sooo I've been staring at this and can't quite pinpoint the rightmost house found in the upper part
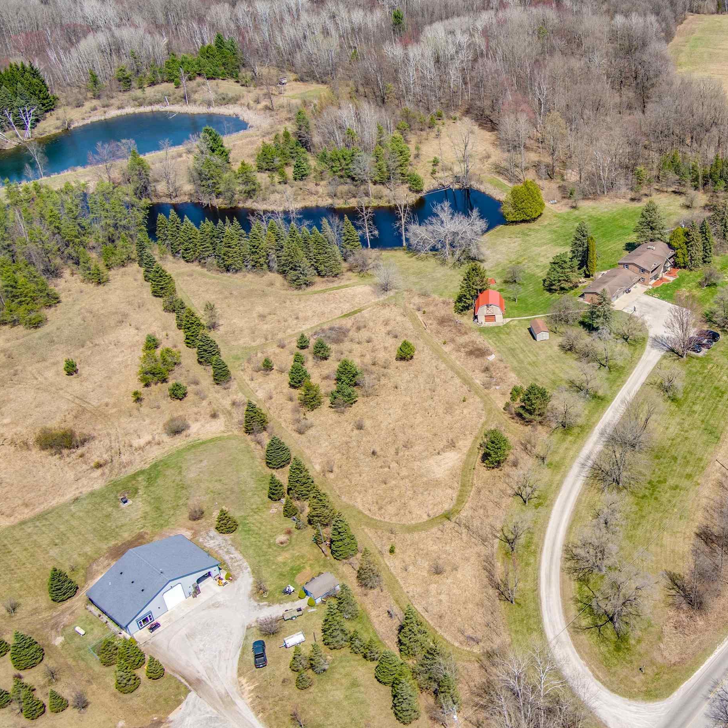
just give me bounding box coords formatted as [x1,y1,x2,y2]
[581,241,676,304]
